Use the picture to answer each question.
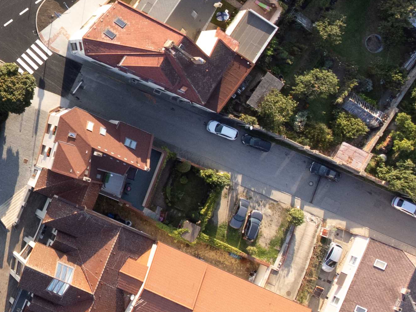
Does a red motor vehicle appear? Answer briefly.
No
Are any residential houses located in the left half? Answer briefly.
Yes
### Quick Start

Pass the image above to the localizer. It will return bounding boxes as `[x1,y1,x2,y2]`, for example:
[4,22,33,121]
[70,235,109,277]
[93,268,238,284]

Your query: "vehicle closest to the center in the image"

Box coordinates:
[204,119,240,142]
